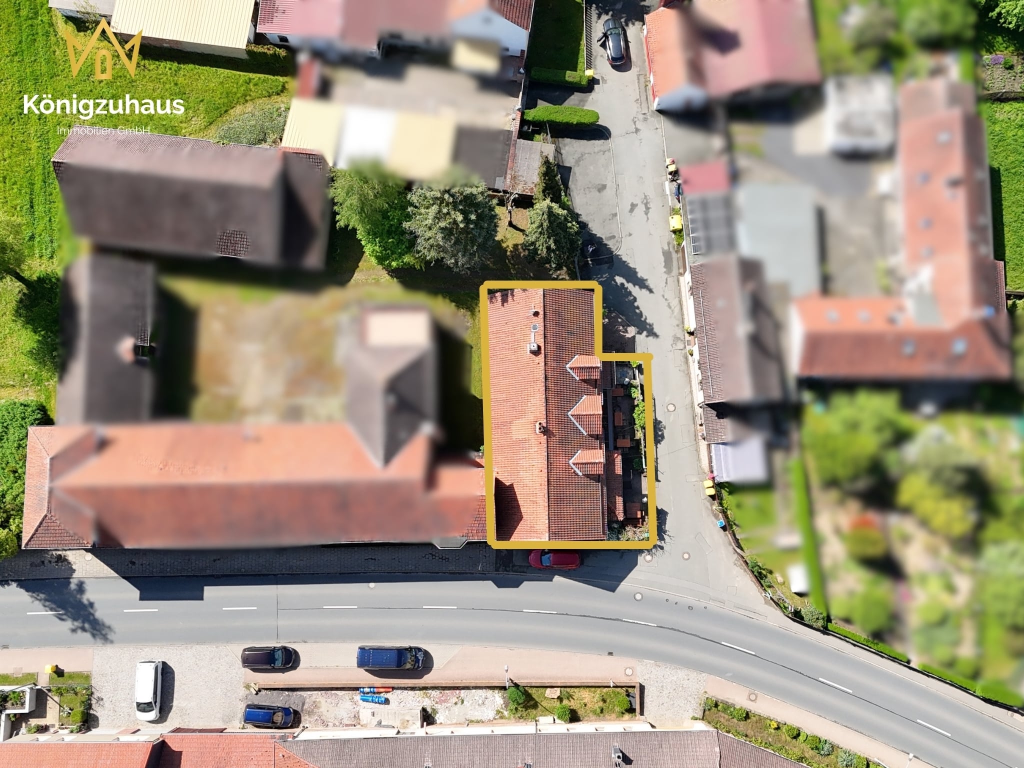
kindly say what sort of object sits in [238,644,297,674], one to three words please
car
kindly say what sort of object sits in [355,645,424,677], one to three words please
van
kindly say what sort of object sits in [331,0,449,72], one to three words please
house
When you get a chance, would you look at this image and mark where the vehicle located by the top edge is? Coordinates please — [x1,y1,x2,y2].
[595,23,629,71]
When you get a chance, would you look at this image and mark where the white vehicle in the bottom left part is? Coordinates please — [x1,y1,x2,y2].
[130,659,168,723]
